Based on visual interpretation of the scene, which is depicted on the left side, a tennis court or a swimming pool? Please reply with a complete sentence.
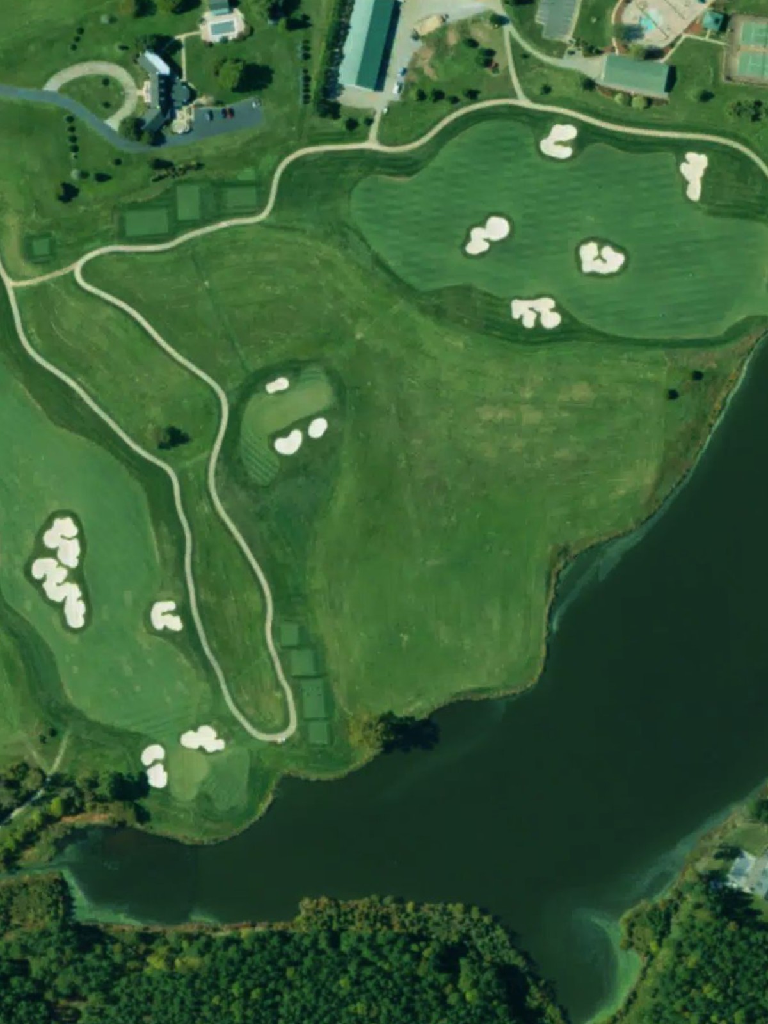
Looking on the left side, you will find a swimming pool.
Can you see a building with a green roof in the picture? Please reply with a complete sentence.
Yes, the photo shows a building with a green roof.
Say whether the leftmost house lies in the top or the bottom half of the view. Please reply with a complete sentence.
The leftmost house sits in the top half of the picture.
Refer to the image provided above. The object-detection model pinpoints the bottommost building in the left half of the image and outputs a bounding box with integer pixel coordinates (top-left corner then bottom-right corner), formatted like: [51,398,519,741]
[137,51,190,132]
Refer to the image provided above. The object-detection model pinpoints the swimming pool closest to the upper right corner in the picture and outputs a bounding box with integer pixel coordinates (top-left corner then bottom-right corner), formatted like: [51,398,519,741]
[623,0,710,47]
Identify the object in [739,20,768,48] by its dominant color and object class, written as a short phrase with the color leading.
green tennis court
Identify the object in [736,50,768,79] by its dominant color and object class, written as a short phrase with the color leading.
green tennis court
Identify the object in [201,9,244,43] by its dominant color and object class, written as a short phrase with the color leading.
white swimming pool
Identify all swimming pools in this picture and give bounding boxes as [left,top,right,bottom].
[623,0,710,47]
[201,9,244,43]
